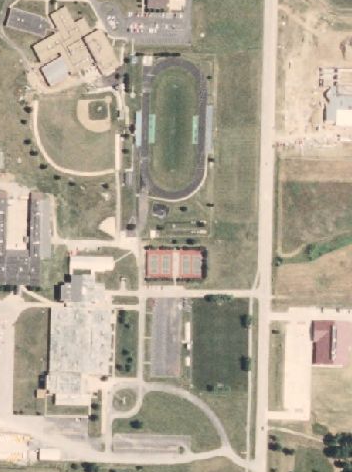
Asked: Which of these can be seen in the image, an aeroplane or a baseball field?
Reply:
baseball field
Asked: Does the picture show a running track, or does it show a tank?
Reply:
running track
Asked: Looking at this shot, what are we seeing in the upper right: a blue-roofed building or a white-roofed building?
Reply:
white-roofed building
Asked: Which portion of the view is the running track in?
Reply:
top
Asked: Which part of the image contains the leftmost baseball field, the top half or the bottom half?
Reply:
top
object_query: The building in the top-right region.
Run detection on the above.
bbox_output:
[319,68,352,127]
